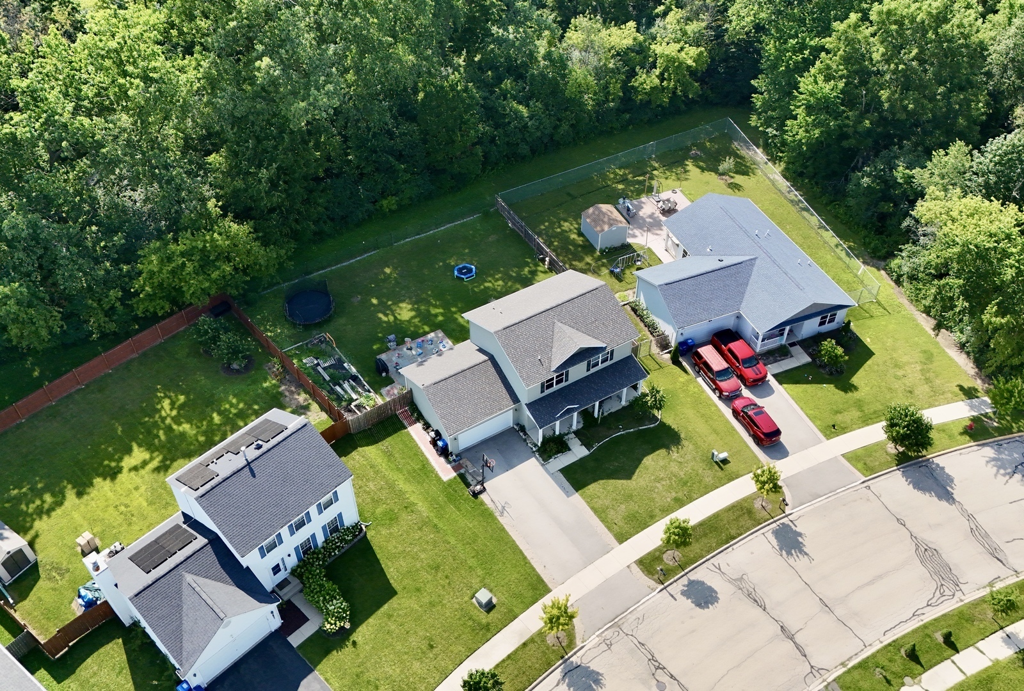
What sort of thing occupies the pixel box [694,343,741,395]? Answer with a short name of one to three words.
car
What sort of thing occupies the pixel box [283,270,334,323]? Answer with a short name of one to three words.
trampoline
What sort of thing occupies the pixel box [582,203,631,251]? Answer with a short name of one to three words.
shed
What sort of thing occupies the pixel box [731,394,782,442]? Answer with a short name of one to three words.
car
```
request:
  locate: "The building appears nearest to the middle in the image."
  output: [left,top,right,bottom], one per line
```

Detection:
[399,269,649,454]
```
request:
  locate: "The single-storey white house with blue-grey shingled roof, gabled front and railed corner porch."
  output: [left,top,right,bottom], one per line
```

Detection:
[633,193,858,354]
